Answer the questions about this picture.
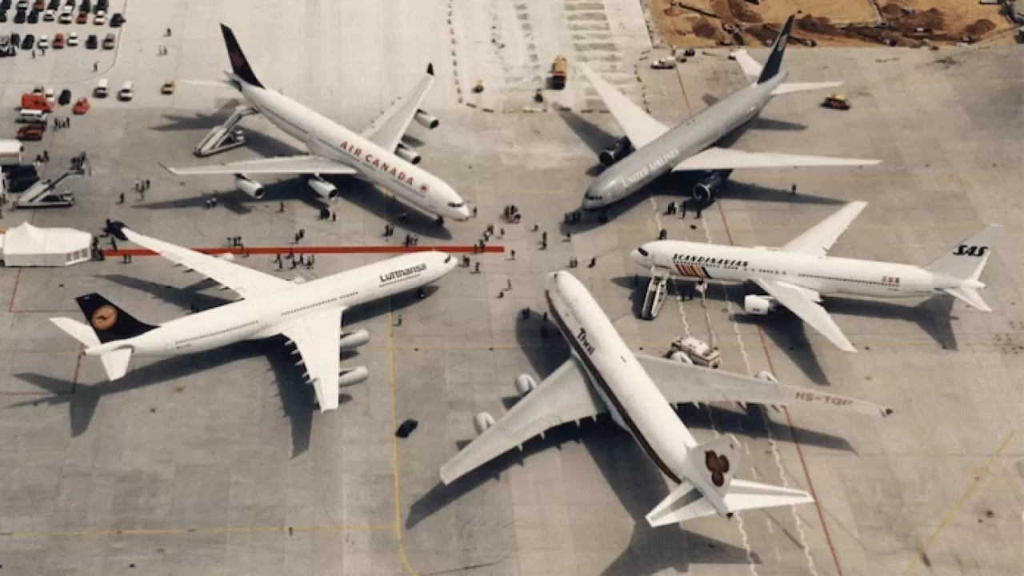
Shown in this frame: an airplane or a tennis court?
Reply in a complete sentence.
It is an airplane that can be seen here.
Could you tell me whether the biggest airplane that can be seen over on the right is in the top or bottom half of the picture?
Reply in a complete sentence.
The biggest airplane that can be seen over on the right is in the bottom half of the image.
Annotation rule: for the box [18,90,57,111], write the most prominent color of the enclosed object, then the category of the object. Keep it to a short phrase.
red truck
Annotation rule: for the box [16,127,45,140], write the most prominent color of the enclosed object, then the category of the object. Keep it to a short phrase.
red vehicle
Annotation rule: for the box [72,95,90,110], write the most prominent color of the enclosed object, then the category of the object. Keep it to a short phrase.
red car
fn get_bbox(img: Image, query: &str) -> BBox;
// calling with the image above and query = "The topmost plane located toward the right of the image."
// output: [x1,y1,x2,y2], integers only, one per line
[577,15,880,221]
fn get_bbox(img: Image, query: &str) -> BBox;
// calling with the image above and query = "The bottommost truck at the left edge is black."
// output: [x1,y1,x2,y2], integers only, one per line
[1,164,42,195]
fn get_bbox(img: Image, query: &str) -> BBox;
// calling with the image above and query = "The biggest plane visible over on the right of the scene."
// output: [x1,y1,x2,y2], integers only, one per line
[446,268,889,528]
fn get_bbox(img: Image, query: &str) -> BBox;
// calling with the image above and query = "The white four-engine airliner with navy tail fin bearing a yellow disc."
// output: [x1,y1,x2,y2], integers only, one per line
[49,224,458,414]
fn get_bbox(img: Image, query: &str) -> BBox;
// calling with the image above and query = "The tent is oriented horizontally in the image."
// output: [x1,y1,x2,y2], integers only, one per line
[3,223,92,266]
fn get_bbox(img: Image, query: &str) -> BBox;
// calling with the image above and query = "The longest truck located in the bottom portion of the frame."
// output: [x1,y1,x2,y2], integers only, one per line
[665,332,717,363]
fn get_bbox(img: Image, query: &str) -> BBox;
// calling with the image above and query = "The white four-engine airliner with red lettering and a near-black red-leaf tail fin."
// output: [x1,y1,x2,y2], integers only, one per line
[154,23,473,224]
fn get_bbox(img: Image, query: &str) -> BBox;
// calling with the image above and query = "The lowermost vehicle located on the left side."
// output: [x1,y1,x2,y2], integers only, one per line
[394,418,419,433]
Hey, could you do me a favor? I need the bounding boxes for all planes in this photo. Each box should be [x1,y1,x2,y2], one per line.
[577,15,880,221]
[49,224,458,414]
[446,268,889,528]
[631,201,1006,351]
[154,23,473,224]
